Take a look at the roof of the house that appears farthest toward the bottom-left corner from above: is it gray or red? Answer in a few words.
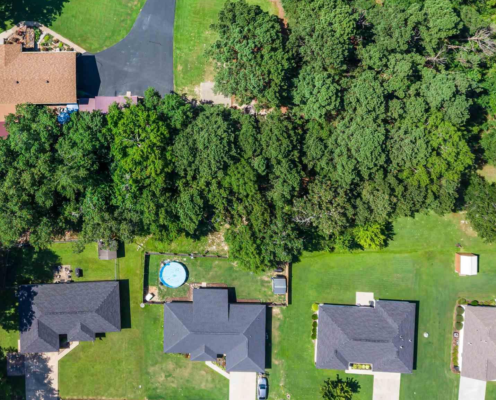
gray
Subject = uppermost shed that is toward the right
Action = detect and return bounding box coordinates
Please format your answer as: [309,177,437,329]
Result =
[455,254,477,275]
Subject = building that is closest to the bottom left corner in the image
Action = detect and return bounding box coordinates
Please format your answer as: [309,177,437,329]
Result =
[20,279,121,352]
